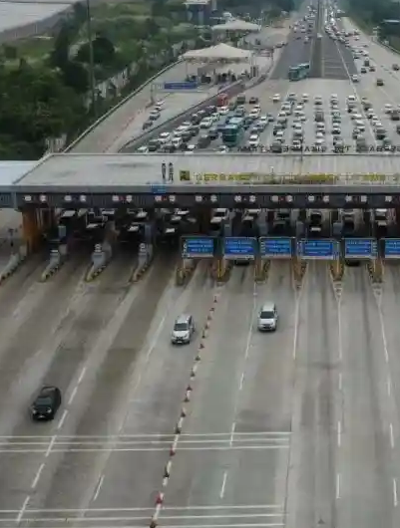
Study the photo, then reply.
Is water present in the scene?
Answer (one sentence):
No, the scene doesn't show any water.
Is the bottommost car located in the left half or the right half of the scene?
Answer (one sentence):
It is on the left.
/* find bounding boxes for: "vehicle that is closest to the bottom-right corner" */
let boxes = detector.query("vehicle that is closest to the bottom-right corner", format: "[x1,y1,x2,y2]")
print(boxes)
[257,302,279,331]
